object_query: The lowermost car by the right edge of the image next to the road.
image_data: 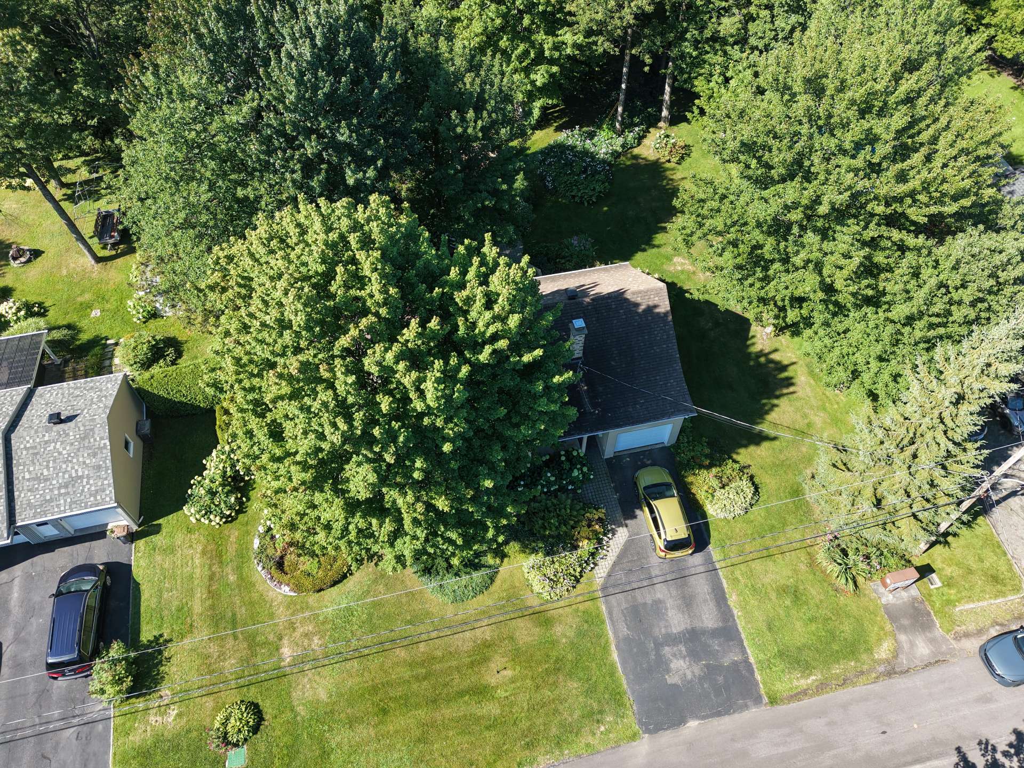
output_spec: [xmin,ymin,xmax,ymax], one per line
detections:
[976,617,1024,685]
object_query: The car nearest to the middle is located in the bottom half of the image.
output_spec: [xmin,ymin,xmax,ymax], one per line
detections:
[633,467,696,561]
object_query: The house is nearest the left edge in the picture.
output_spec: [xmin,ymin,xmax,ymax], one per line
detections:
[0,368,150,563]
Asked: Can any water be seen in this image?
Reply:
No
